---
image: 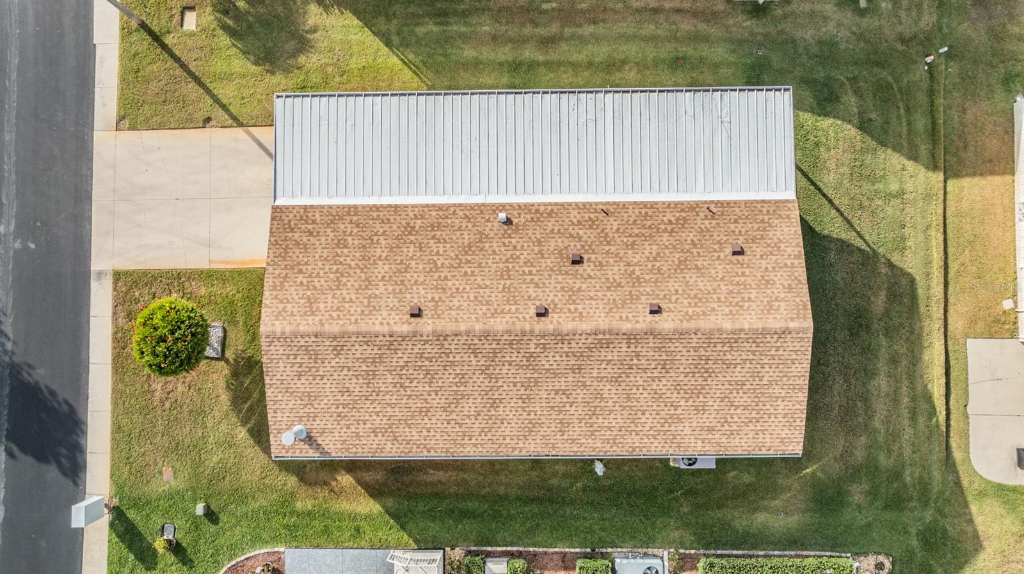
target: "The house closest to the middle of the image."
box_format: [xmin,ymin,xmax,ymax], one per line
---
[261,87,813,461]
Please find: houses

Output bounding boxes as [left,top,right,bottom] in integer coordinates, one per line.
[1007,100,1024,345]
[261,87,813,461]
